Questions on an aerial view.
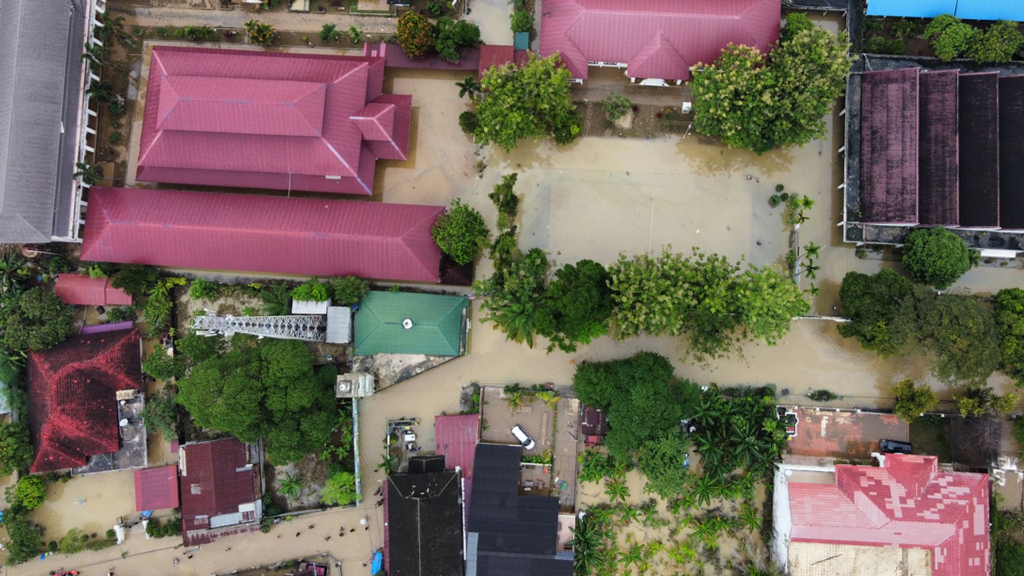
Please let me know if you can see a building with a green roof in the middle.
Yes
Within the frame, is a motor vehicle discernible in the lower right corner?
Yes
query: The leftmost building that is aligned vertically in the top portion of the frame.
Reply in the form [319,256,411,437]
[0,0,111,244]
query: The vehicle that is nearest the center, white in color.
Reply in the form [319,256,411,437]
[508,422,537,452]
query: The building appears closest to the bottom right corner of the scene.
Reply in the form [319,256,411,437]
[772,452,990,576]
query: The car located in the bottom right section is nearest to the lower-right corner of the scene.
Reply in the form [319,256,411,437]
[875,436,915,454]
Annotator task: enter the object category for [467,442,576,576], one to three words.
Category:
house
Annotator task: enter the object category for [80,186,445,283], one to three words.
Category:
building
